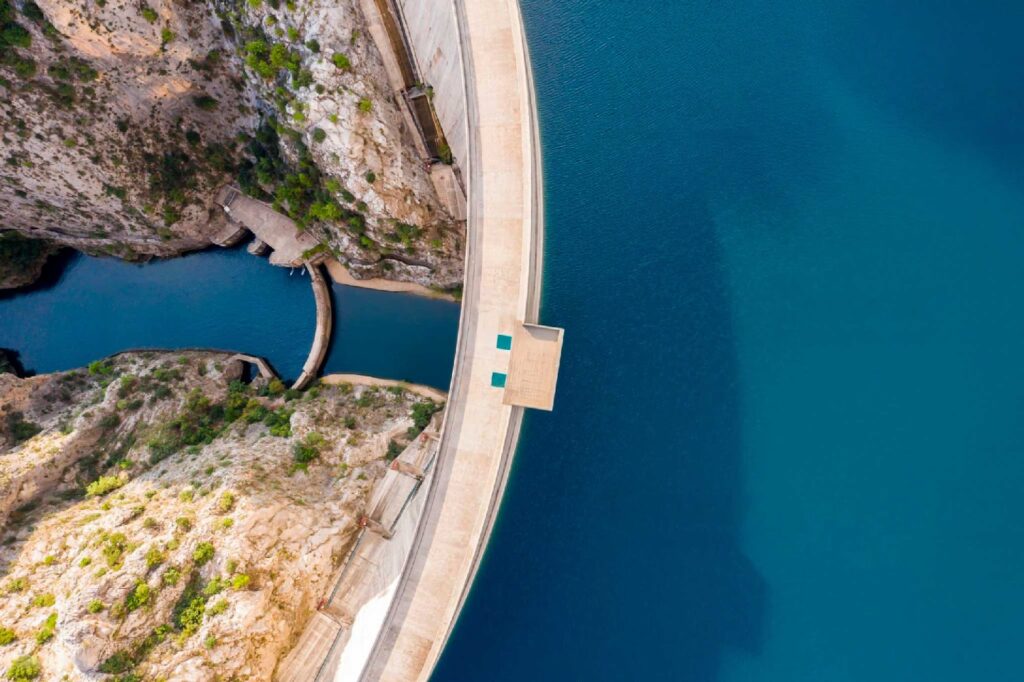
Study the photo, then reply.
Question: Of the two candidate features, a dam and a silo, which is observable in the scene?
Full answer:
Looking from above, you can make out a dam.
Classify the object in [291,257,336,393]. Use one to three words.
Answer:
dam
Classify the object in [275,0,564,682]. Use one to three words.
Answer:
dam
